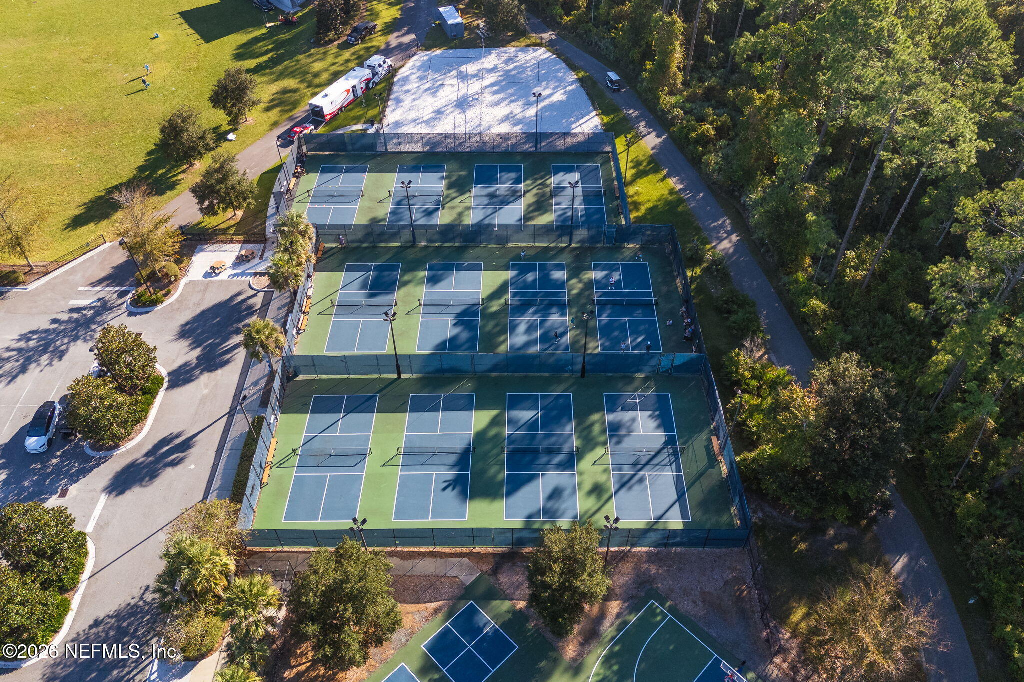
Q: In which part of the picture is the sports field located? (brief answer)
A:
top left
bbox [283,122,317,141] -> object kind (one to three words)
car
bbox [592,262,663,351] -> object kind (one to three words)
sports court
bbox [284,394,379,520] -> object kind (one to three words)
sports court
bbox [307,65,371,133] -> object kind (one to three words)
trailer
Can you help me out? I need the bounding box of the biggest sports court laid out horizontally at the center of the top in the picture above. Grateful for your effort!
[378,47,611,152]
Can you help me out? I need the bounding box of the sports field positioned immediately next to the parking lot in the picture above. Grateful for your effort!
[0,0,404,269]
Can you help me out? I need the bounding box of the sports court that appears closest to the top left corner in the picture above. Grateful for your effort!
[304,165,369,224]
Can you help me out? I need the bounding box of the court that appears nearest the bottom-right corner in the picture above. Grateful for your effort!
[590,601,753,682]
